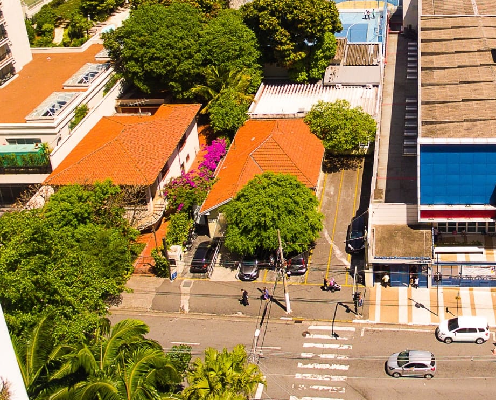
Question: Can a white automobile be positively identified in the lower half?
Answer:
Yes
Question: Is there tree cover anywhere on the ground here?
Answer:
Yes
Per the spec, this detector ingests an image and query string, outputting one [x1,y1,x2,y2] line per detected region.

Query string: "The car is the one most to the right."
[437,313,490,341]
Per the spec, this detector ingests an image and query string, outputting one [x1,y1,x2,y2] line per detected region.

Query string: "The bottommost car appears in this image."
[386,348,435,376]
